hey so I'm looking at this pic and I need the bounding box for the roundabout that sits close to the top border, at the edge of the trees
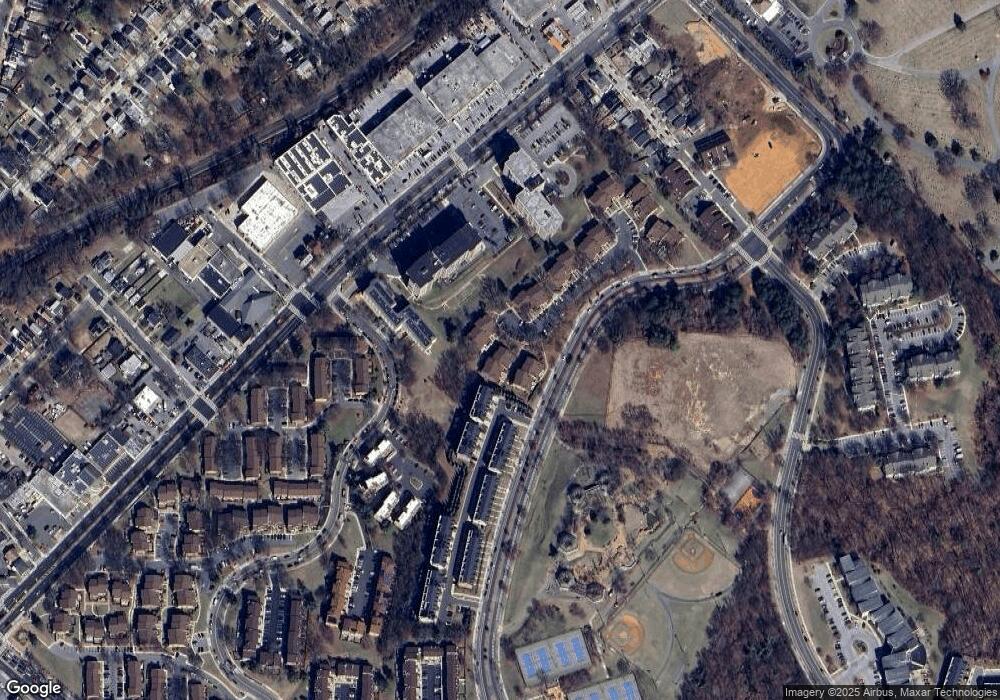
[808,20,860,69]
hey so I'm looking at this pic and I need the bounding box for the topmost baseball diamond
[642,523,740,599]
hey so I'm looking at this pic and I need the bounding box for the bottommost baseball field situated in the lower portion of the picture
[598,587,674,687]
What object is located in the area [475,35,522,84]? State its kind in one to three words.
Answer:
building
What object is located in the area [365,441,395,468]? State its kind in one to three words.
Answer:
house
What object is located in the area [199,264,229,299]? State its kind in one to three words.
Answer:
building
